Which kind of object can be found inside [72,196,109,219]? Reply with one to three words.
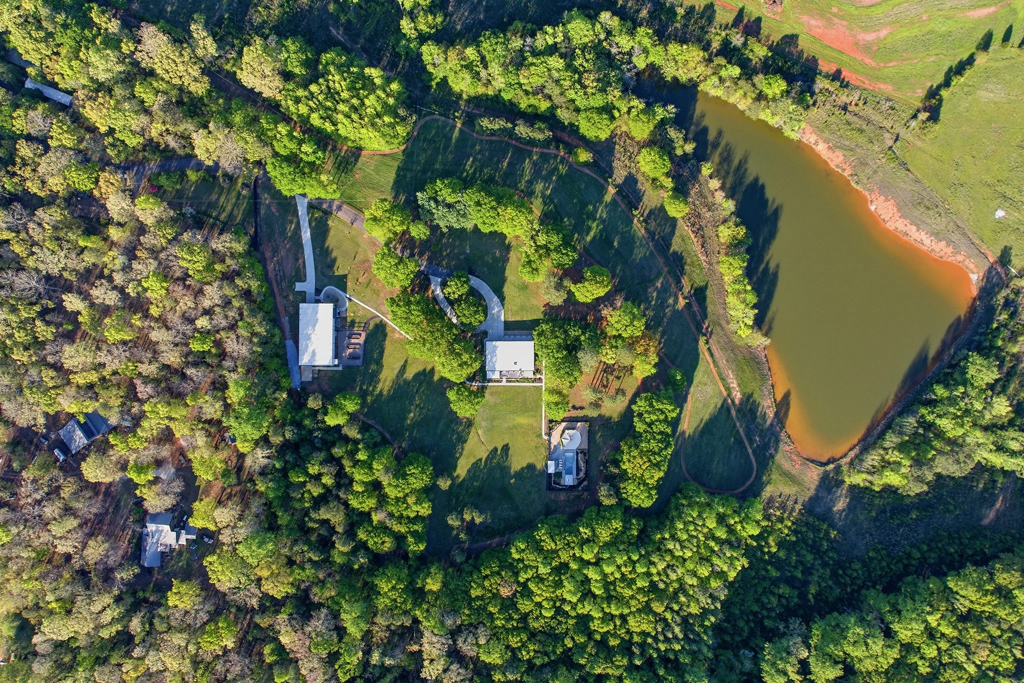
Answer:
house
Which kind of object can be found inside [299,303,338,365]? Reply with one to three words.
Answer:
barn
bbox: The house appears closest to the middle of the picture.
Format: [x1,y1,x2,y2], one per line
[486,341,534,379]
